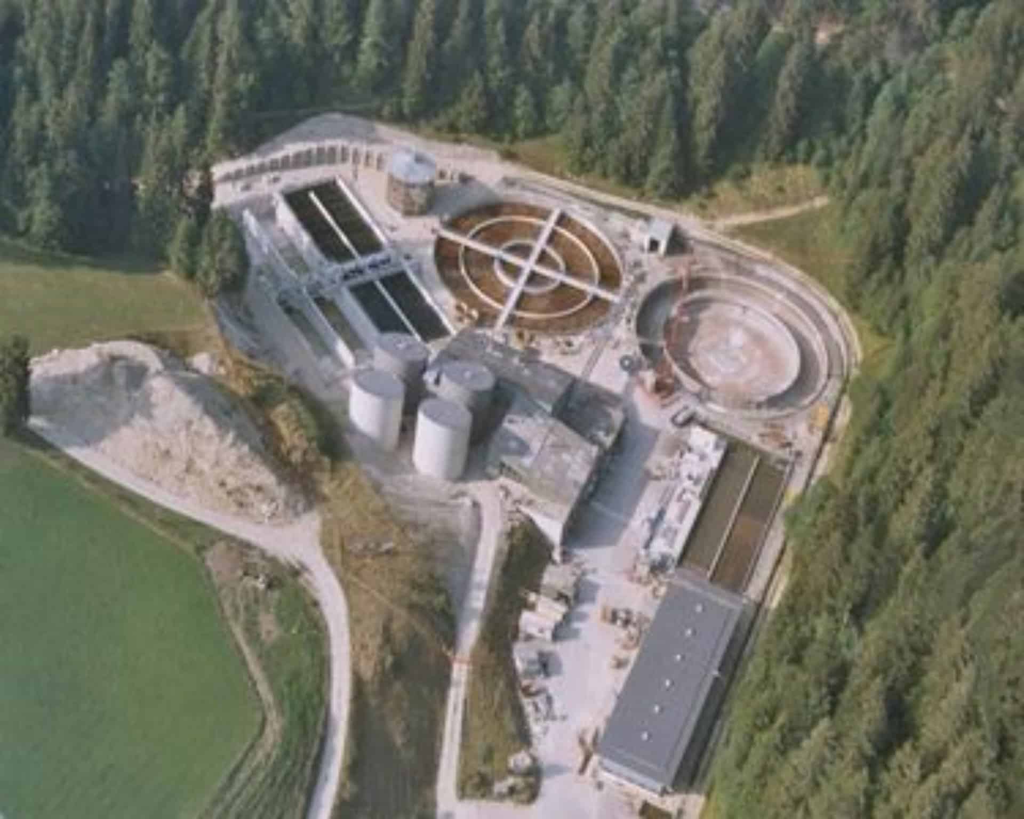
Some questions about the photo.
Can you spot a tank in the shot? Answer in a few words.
Yes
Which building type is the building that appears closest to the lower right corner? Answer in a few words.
warehouse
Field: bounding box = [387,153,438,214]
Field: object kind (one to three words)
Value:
storage tank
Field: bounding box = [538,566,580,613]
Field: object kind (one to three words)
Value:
shed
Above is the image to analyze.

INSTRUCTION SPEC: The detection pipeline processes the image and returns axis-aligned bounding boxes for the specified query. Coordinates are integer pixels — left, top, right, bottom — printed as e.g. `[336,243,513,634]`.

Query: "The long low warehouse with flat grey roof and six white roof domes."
[586,569,746,803]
